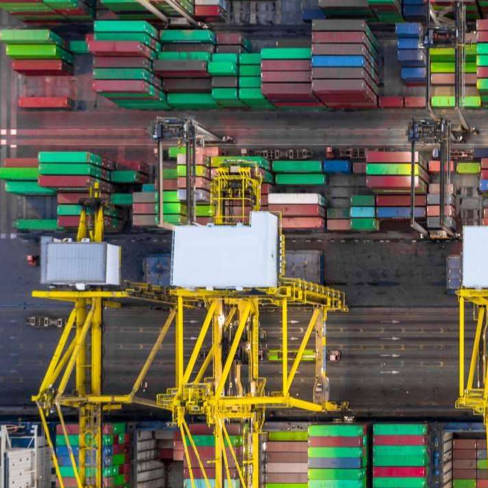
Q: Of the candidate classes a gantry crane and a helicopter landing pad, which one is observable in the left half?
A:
gantry crane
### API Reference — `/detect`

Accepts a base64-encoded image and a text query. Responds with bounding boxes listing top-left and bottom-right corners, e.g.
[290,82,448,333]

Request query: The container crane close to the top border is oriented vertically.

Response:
[418,2,479,133]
